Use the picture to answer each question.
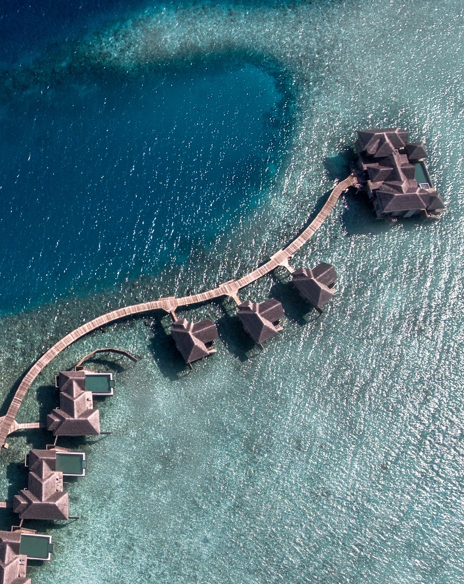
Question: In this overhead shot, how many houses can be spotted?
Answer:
4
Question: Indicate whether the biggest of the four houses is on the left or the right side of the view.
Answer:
right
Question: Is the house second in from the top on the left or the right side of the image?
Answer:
right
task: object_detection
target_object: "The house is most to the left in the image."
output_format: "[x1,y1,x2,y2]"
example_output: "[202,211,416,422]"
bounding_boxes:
[165,318,219,377]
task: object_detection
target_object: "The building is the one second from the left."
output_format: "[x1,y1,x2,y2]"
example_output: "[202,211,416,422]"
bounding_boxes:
[229,298,285,358]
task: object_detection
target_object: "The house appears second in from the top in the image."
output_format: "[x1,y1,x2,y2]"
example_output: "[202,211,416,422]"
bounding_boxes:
[281,263,340,321]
